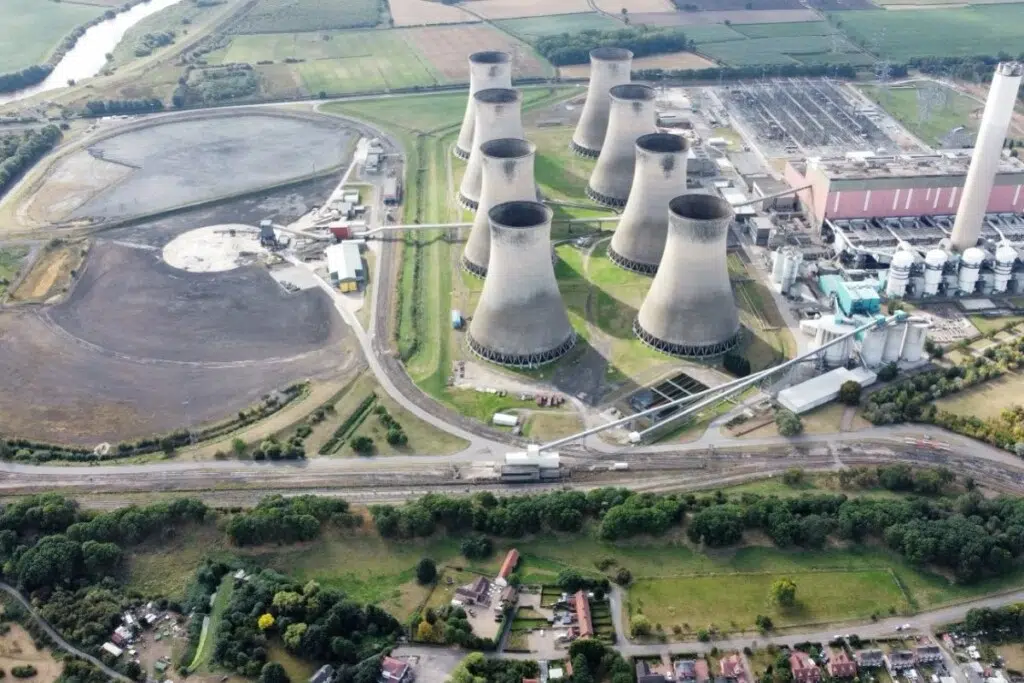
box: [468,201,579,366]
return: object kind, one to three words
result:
cooling tower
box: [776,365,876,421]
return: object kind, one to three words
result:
shed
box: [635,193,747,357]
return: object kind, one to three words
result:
cooling tower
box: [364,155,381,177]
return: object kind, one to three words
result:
building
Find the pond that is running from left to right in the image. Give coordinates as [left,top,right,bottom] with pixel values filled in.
[66,111,357,223]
